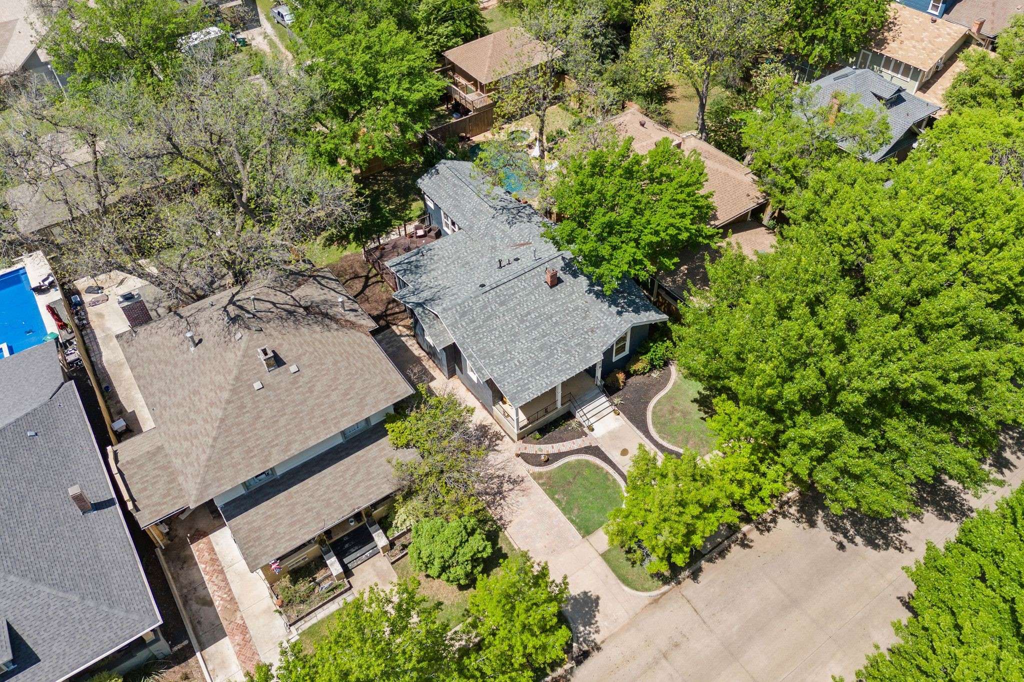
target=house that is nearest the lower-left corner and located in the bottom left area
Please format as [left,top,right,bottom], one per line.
[0,346,166,682]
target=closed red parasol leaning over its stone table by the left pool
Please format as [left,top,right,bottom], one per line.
[37,305,70,335]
